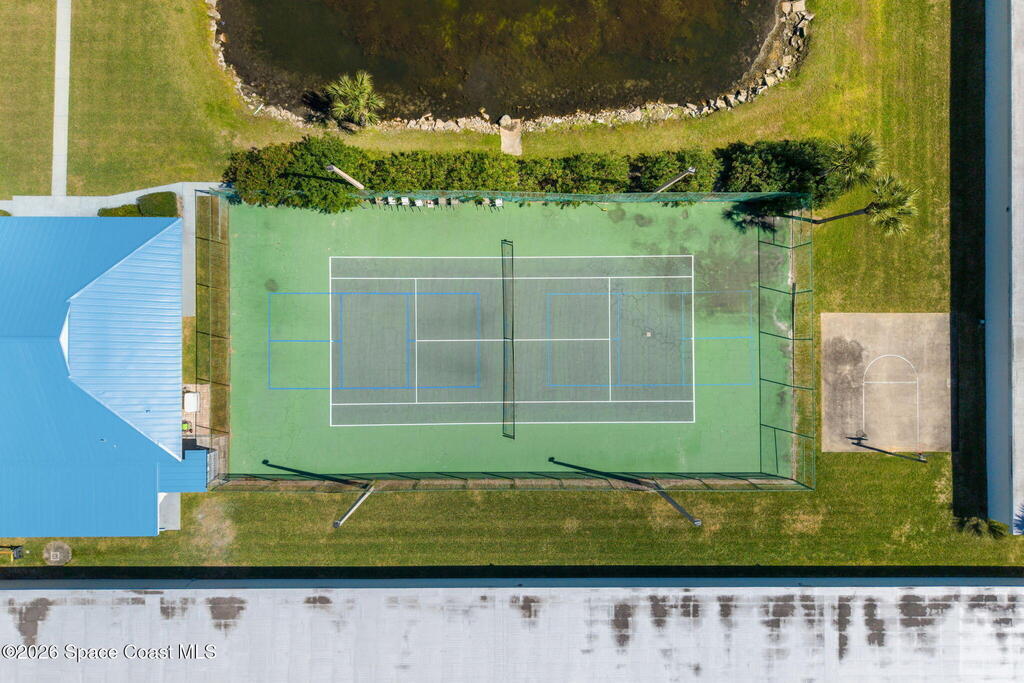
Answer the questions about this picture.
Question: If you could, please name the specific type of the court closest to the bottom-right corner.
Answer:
basketball court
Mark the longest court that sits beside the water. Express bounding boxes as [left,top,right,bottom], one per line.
[229,199,796,480]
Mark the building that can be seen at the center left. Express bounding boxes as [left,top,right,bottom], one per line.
[0,216,216,536]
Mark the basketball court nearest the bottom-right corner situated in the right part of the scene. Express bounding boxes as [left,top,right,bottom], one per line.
[821,312,957,453]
